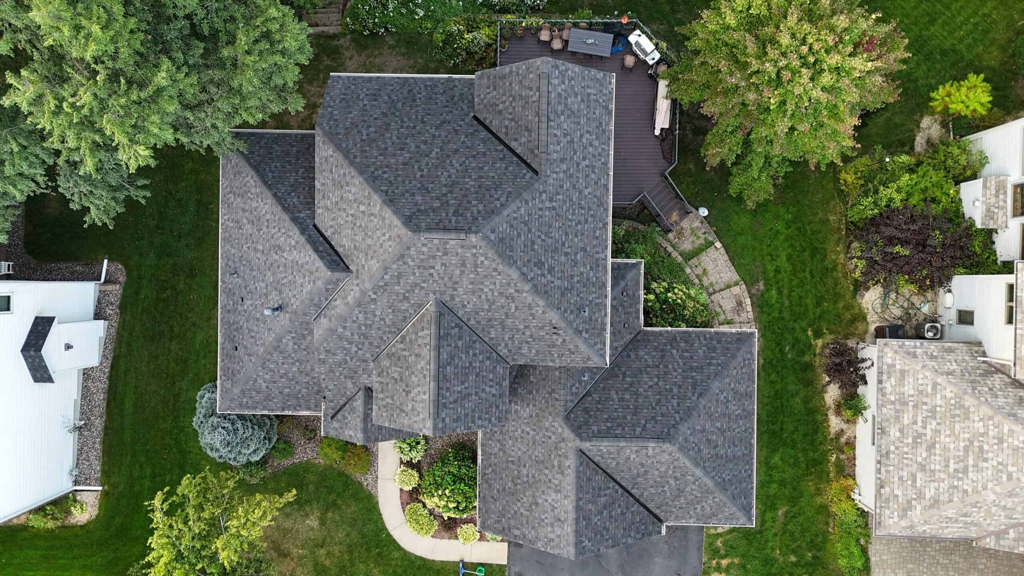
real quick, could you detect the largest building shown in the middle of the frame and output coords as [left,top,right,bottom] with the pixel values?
[216,55,758,561]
